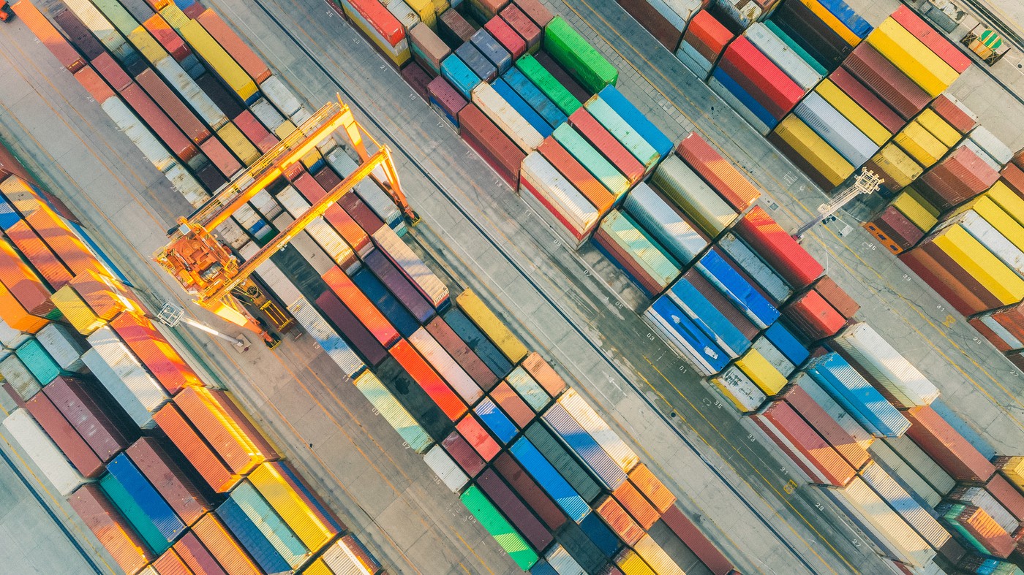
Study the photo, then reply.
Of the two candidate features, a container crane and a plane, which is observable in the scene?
container crane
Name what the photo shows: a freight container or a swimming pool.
freight container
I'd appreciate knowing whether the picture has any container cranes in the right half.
No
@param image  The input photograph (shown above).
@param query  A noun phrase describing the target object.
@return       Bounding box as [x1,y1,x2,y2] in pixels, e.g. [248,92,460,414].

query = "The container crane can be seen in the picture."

[126,70,426,356]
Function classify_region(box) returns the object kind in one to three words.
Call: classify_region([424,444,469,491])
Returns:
shipping container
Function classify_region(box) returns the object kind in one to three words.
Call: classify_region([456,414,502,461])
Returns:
shipping container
